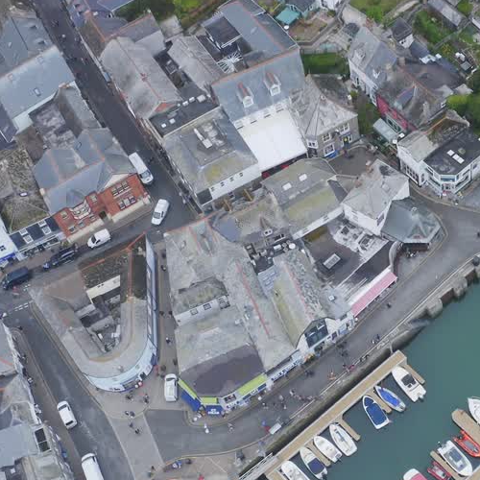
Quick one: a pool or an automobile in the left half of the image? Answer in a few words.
automobile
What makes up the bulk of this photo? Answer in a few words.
buildings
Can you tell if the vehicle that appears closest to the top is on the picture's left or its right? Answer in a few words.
left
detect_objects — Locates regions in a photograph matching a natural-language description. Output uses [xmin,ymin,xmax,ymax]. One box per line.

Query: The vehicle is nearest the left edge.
[0,263,35,290]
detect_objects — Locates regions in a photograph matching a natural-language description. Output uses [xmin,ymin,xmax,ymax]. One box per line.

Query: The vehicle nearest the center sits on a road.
[149,198,170,226]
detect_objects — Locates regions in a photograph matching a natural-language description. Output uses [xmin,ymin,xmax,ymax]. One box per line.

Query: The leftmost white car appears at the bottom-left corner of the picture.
[58,402,77,428]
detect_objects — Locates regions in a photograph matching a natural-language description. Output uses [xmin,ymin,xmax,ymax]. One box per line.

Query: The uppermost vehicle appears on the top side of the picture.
[127,148,152,182]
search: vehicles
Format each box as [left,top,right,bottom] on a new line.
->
[58,402,77,428]
[0,263,35,290]
[85,224,114,248]
[164,374,178,402]
[149,198,170,226]
[44,245,76,269]
[78,454,104,480]
[127,148,152,182]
